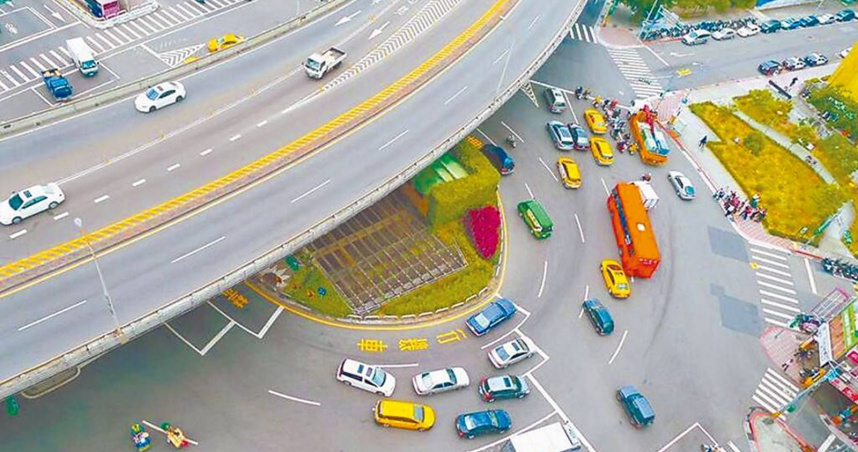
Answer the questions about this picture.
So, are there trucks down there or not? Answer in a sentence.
Yes, this view includes a truck.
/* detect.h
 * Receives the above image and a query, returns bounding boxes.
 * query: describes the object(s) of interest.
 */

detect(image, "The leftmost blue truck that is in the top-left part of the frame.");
[42,69,73,102]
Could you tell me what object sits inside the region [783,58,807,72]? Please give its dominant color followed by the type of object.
white car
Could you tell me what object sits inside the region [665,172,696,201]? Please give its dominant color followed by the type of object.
white car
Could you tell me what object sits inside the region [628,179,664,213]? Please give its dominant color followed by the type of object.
white truck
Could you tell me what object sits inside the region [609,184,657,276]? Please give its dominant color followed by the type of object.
orange bus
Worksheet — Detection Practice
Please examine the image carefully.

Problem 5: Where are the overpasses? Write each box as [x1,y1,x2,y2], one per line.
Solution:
[0,0,587,404]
